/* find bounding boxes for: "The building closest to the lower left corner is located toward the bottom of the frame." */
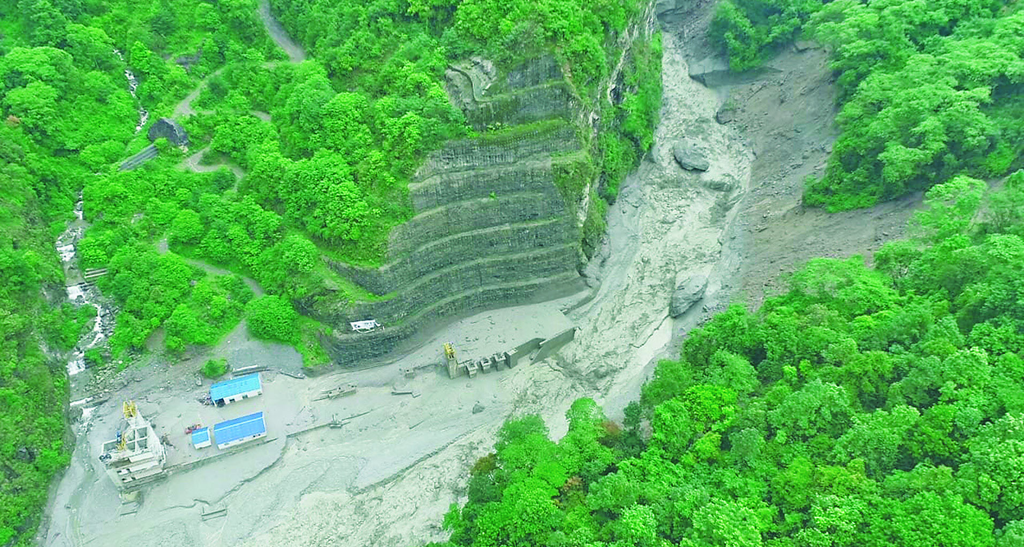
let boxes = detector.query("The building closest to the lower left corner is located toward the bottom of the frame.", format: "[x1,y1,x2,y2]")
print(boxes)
[191,426,212,449]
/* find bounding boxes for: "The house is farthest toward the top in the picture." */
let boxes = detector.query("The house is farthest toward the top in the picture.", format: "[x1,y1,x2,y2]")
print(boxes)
[210,373,263,407]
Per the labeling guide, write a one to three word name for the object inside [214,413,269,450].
house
